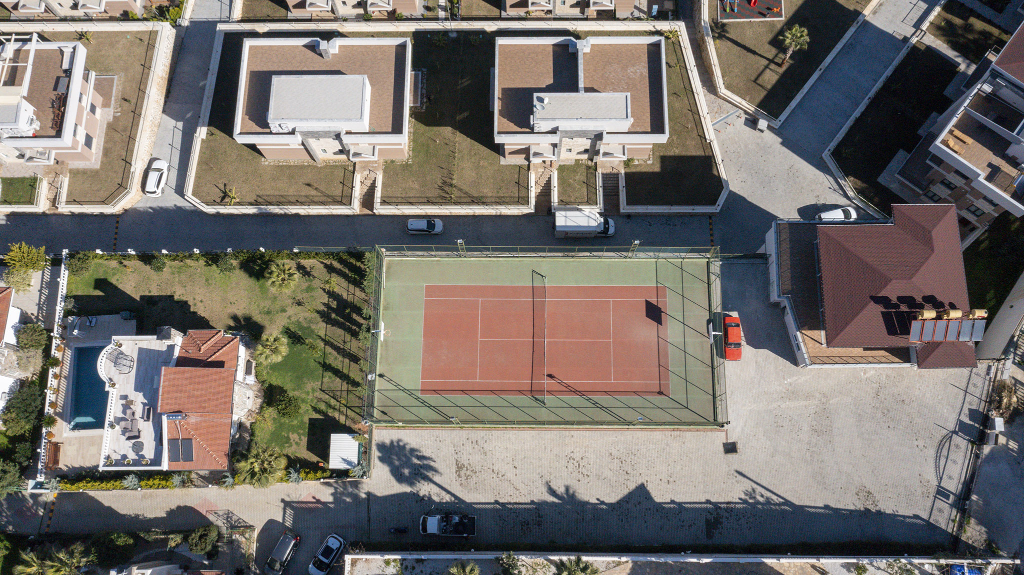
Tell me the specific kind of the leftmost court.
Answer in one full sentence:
The leftmost court in the image is a tennis court.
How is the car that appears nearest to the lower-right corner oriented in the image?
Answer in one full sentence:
What the image shows is the car that appears nearest to the lower-right corner lying vertically.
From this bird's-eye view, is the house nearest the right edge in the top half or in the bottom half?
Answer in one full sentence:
You can find the house nearest the right edge in the top half.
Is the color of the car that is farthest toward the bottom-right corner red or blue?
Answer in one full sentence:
In this view, the car that is farthest toward the bottom-right corner is red.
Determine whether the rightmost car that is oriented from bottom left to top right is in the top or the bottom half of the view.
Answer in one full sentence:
It is in the bottom half that the rightmost car that is oriented from bottom left to top right appears.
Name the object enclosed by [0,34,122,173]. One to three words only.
house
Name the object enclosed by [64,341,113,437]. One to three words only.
swimming pool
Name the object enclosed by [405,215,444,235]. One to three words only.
car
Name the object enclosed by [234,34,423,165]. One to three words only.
house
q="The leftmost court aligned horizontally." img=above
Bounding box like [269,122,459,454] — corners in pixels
[371,255,718,428]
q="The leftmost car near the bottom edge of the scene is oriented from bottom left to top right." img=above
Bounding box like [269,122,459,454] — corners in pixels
[260,527,303,575]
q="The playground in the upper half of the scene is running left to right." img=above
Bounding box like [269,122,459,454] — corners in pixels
[718,0,785,20]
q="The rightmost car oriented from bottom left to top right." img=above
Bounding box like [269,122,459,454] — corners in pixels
[306,530,347,575]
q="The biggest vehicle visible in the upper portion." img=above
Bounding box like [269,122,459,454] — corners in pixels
[554,212,612,239]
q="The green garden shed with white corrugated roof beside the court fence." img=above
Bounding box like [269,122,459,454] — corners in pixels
[329,434,362,469]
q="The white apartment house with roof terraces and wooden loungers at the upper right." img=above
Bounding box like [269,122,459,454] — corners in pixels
[876,27,1024,263]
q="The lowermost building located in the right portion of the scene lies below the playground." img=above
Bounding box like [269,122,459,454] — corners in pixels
[750,203,976,373]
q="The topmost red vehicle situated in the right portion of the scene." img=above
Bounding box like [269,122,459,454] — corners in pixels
[725,315,747,361]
